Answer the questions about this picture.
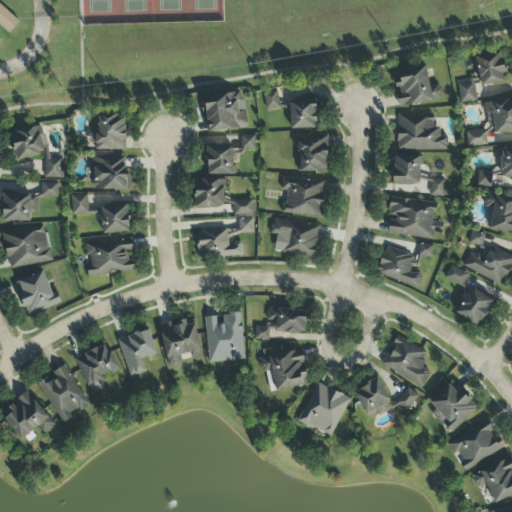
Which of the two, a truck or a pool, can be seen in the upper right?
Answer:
pool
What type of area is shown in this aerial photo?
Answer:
residential area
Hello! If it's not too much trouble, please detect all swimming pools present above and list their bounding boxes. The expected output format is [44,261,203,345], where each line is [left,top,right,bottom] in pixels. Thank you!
[74,156,92,181]
[375,410,395,428]
[470,150,496,170]
[74,110,96,148]
[472,196,488,225]
[463,104,485,126]
[44,124,65,148]
[436,114,456,143]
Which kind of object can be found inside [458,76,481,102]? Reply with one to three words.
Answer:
building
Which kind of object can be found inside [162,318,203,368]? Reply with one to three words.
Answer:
house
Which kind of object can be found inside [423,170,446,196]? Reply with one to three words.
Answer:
building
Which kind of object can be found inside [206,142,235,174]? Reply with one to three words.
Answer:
house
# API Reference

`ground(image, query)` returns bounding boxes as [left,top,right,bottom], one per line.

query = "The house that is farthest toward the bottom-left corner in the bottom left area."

[6,390,56,438]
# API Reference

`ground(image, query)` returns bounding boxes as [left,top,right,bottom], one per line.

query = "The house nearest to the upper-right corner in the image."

[476,48,510,84]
